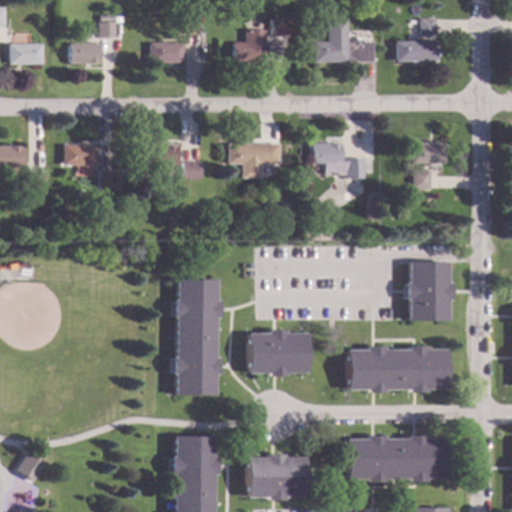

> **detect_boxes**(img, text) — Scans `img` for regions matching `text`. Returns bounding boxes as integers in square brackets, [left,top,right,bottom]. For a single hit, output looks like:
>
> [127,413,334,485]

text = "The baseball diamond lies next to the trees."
[0,263,158,438]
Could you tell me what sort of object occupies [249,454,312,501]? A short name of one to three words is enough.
building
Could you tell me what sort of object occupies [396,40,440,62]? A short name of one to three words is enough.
house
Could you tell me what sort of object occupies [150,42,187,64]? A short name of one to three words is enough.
house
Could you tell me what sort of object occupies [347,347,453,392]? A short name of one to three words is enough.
building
